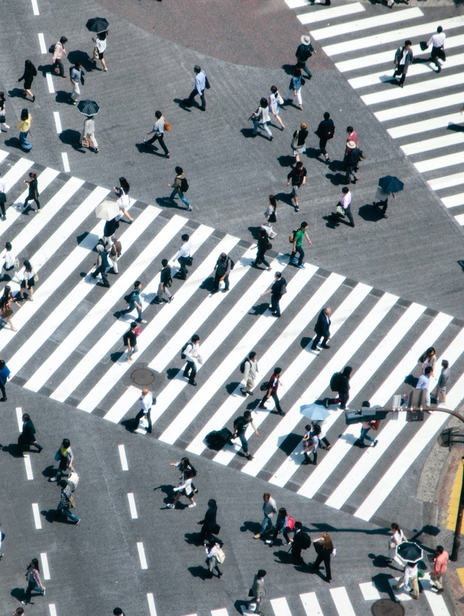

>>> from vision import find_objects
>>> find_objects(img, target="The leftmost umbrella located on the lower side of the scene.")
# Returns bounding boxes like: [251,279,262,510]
[297,406,333,428]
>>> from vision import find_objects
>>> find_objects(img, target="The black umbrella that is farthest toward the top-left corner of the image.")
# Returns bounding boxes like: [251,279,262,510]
[86,19,113,37]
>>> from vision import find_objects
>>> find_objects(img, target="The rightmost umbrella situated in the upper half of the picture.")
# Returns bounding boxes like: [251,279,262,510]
[380,178,408,197]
